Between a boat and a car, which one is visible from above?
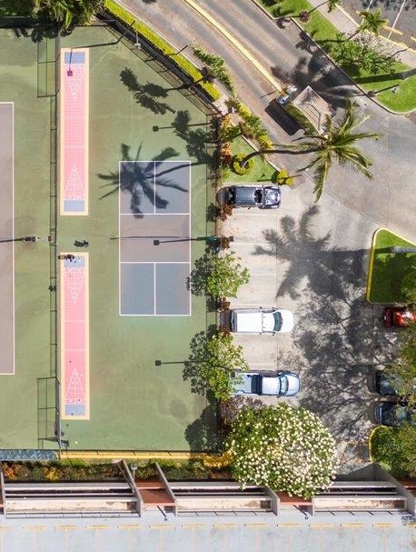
car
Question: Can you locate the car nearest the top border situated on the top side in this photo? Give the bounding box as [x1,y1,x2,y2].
[222,182,283,210]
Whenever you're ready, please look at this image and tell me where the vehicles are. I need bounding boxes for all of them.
[372,401,416,428]
[381,305,415,328]
[222,182,283,210]
[230,307,294,336]
[232,371,300,399]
